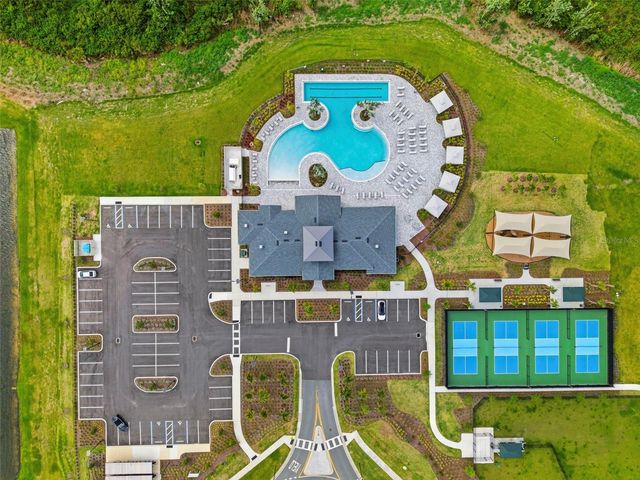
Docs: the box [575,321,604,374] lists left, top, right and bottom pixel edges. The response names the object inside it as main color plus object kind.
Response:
blue sports court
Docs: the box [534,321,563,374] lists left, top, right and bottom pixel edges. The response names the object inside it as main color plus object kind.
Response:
blue sports court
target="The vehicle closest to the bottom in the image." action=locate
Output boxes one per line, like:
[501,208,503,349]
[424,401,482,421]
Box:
[112,414,129,432]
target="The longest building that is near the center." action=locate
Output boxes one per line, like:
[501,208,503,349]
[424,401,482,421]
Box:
[238,194,396,281]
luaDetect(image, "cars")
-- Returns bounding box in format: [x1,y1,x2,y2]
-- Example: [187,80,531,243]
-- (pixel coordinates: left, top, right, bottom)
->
[378,301,386,320]
[112,414,129,432]
[78,270,98,279]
